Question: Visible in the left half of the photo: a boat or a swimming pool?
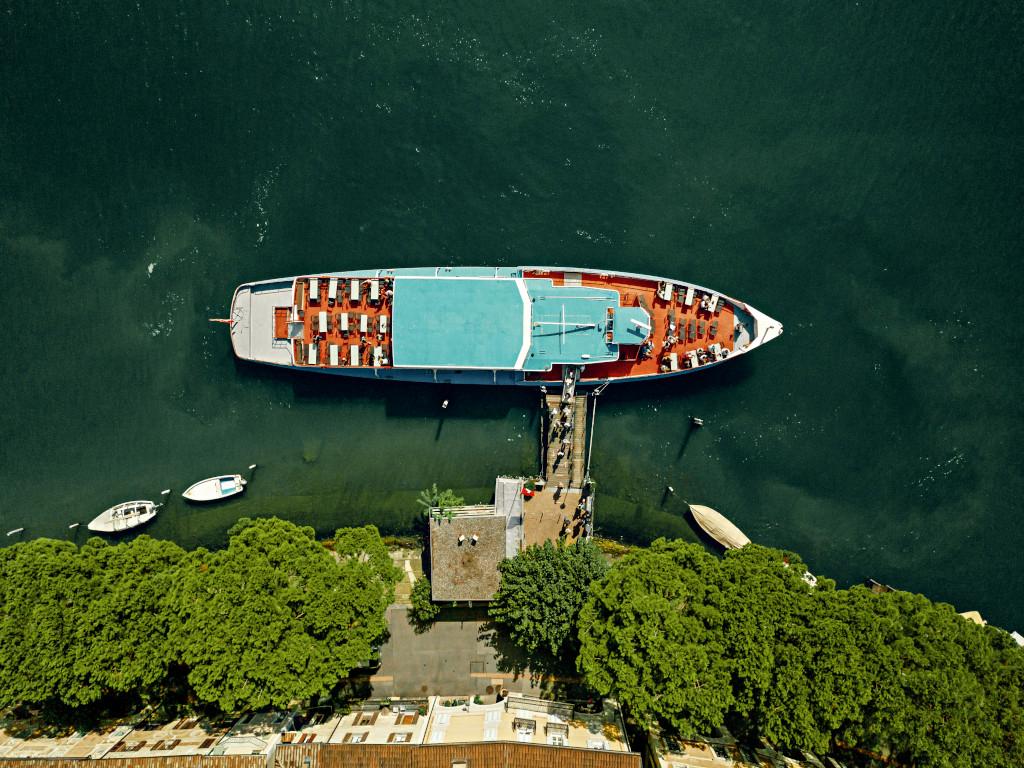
boat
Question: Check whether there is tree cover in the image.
Yes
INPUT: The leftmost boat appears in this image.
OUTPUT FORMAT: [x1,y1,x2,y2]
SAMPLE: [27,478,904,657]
[86,502,162,532]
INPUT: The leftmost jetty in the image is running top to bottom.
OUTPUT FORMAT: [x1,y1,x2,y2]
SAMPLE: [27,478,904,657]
[496,476,522,563]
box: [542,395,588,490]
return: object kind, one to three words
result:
pier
